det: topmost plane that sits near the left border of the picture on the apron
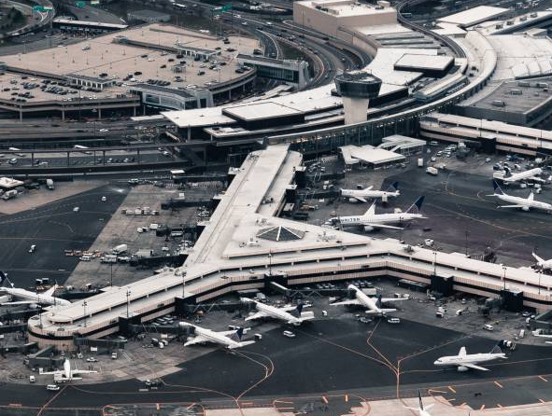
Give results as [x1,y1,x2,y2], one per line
[0,271,56,309]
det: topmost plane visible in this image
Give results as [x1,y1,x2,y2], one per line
[491,167,545,183]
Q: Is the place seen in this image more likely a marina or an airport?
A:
airport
